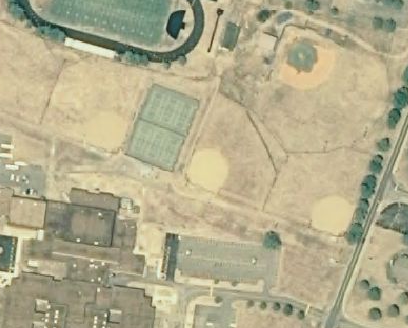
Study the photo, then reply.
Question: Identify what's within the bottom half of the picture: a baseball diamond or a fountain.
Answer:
baseball diamond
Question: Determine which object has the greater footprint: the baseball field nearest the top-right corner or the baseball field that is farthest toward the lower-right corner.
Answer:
the baseball field nearest the top-right corner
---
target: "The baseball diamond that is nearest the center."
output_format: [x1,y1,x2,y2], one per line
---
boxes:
[187,146,232,195]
